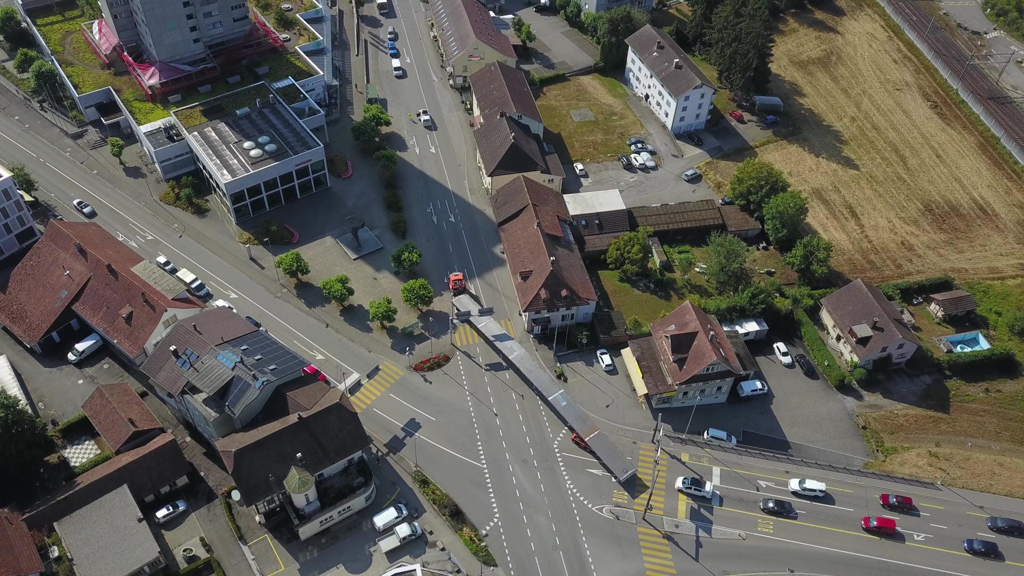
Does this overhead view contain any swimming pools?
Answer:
Yes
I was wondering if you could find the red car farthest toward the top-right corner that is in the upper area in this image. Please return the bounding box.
[728,111,744,123]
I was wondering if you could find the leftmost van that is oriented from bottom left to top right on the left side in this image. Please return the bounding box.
[66,331,103,361]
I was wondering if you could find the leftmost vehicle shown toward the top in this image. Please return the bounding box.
[72,200,96,217]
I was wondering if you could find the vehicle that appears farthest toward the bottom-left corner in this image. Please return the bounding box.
[149,497,192,525]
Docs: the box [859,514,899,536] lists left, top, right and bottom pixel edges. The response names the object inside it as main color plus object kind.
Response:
red vehicle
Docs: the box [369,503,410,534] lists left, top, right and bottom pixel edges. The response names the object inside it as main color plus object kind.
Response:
white van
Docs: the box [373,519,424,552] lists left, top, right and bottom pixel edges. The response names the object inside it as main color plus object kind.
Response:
white truck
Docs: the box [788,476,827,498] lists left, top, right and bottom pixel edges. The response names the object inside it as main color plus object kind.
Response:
white car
